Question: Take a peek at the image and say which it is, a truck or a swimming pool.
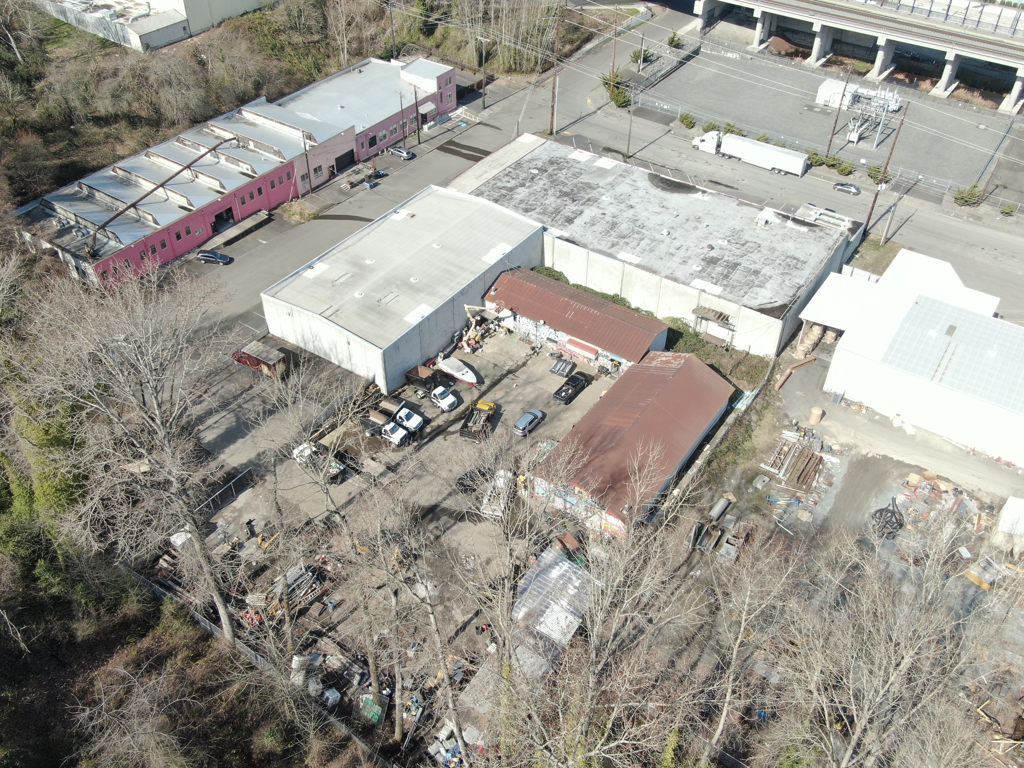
truck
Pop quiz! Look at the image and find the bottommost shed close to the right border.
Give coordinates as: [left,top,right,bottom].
[988,494,1024,563]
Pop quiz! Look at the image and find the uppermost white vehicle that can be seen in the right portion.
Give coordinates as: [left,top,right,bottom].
[685,129,805,176]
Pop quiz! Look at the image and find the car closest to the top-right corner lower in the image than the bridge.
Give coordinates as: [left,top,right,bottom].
[833,184,862,197]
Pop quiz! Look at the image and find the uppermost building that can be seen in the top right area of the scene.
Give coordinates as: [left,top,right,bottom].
[808,74,861,112]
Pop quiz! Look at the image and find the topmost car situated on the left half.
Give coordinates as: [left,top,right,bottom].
[390,145,413,159]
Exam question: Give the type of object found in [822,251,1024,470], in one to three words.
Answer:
warehouse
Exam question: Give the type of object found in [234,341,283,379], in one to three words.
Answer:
truck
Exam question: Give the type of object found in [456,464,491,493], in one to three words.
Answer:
car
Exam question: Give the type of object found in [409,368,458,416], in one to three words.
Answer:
truck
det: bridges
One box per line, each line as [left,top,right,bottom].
[684,0,1024,115]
